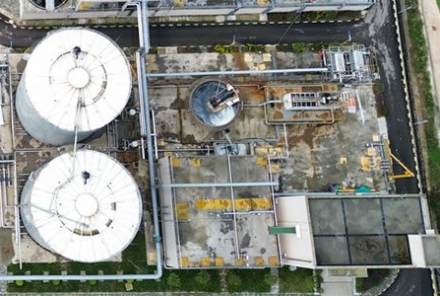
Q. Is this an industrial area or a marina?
industrial area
